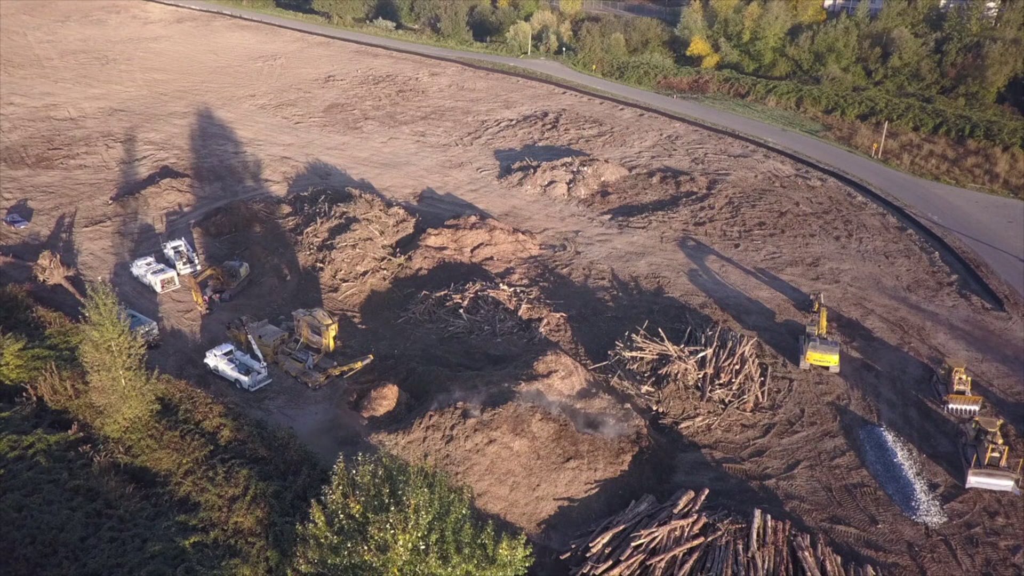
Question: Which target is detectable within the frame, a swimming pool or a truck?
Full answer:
There is a truck in the scene.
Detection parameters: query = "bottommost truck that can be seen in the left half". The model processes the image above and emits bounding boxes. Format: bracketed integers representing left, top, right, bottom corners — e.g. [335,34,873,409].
[202,317,275,395]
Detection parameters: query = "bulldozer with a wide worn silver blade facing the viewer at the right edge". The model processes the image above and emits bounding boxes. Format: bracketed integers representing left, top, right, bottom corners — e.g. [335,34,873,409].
[965,403,1024,489]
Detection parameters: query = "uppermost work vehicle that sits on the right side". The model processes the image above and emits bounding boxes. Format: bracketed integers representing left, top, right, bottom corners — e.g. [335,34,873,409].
[799,278,846,372]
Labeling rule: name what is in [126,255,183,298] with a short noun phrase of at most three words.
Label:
truck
